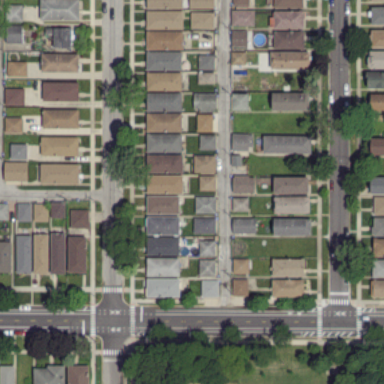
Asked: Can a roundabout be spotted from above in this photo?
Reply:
No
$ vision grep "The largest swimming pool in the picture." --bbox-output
[252,32,266,46]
